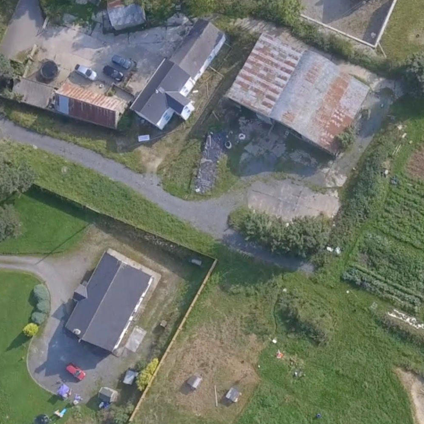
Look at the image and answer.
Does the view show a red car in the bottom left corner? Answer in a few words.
Yes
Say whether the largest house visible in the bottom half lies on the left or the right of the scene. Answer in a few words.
left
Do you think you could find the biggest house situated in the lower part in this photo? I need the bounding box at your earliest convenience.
[66,252,153,353]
